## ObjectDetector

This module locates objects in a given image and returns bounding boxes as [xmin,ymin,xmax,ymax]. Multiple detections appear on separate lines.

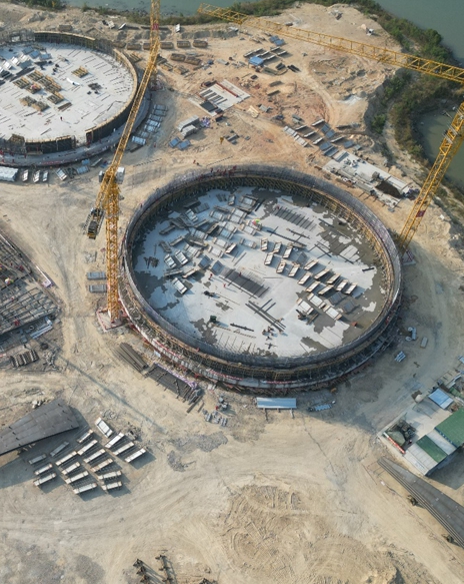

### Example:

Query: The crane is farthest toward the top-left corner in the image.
[147,0,166,91]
